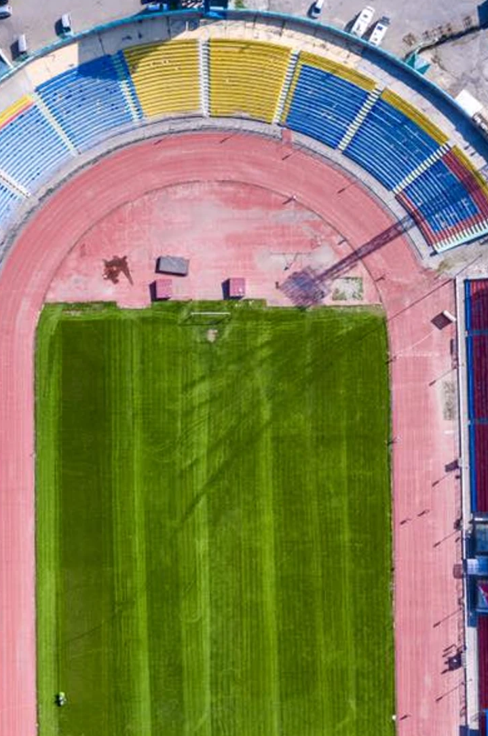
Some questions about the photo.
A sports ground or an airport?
sports ground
